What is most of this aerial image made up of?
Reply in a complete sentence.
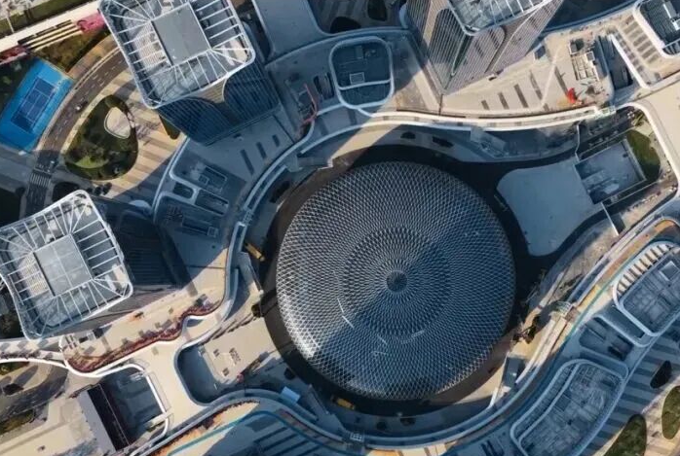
For the most part, this view shows buildings.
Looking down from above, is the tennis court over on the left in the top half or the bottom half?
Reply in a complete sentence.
It is in the top half that the tennis court over on the left appears.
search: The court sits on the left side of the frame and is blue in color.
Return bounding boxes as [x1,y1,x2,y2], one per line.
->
[0,59,74,151]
